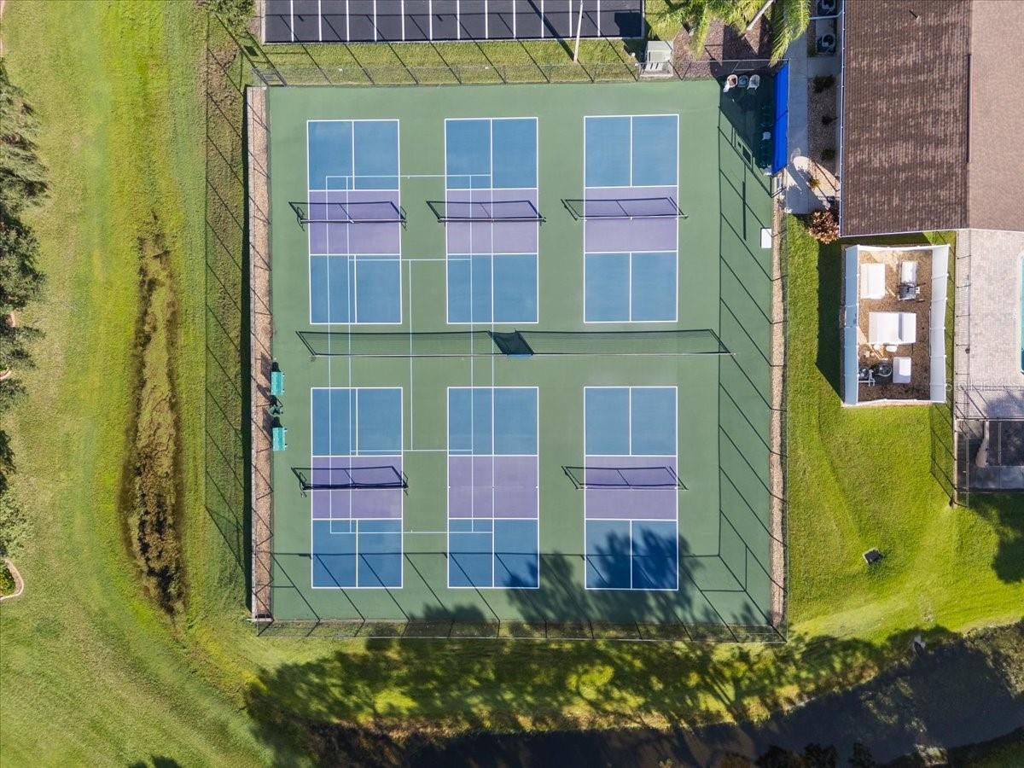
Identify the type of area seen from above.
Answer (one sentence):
The area seen from above is a sports ground.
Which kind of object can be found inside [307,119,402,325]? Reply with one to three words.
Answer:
sports court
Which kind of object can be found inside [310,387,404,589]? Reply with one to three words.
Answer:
sports court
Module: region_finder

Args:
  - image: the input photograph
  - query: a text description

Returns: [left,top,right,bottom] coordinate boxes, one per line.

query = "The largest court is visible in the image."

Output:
[269,79,774,624]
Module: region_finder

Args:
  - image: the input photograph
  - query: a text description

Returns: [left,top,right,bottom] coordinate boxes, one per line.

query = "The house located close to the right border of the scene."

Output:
[834,0,1024,236]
